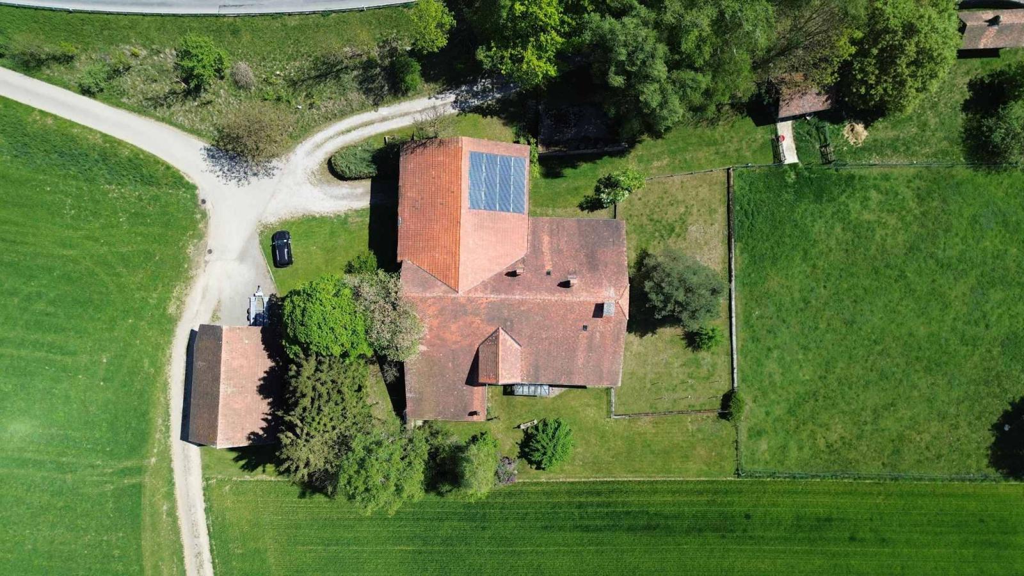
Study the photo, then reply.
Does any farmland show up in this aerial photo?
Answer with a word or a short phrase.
Yes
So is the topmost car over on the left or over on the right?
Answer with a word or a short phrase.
left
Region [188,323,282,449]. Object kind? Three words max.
shed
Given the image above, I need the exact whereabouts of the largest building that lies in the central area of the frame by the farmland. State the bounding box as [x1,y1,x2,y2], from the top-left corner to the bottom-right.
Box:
[396,135,632,421]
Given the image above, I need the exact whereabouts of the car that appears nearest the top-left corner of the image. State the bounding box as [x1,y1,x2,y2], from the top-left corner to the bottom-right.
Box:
[271,230,293,268]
